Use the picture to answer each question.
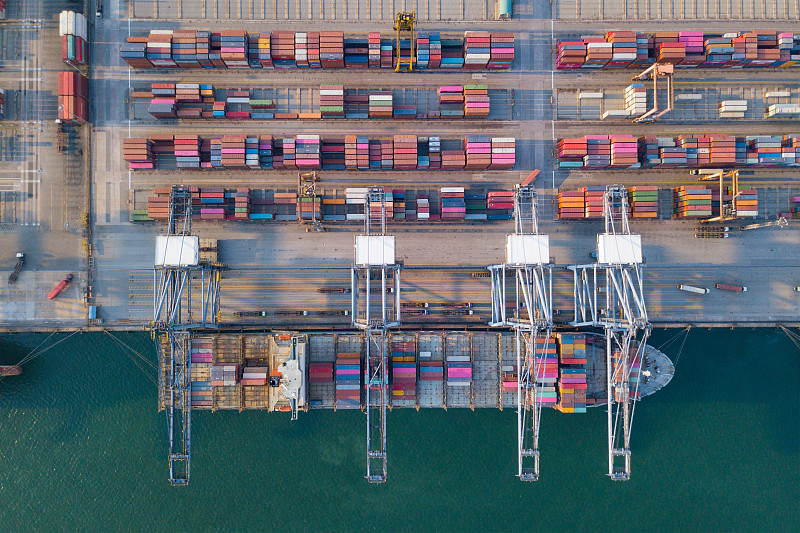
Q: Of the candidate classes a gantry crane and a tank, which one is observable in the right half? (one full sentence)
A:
Looking in the right half, you will find a gantry crane.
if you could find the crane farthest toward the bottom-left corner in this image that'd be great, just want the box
[144,186,235,488]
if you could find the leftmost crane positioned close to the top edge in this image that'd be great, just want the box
[392,5,416,73]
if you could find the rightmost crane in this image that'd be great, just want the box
[695,168,740,225]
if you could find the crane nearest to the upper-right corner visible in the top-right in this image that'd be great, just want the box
[634,59,675,124]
